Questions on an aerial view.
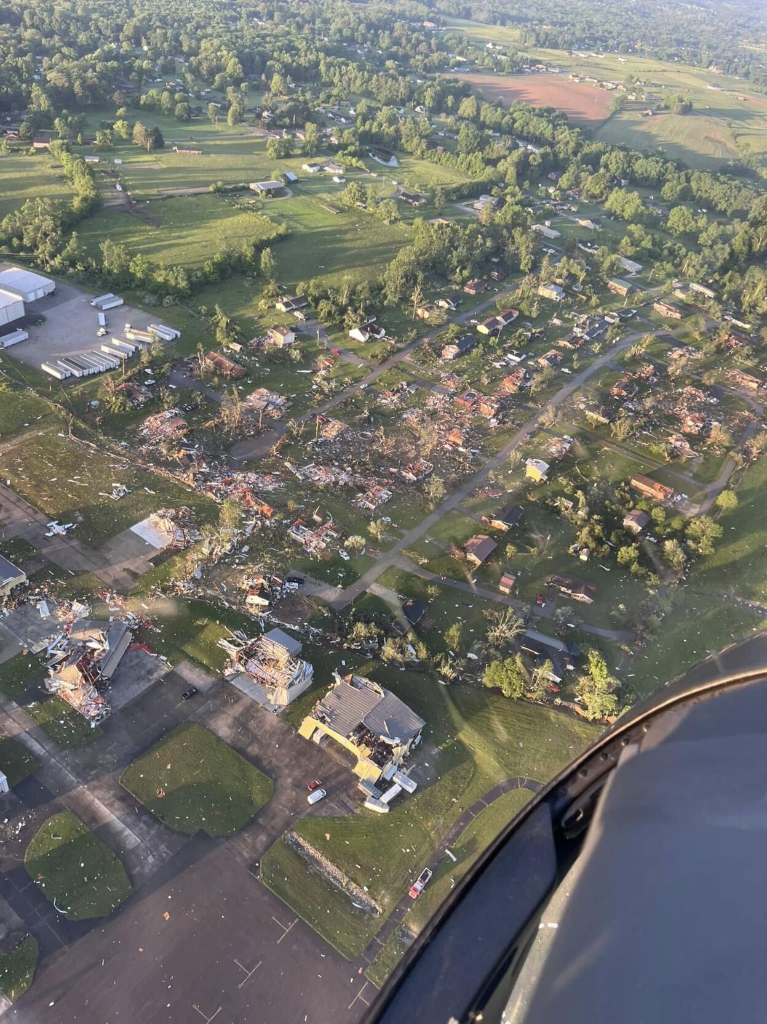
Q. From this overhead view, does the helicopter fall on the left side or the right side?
right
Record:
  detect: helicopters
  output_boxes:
[358,632,767,1024]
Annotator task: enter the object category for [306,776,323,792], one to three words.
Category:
car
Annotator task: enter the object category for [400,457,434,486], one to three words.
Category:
house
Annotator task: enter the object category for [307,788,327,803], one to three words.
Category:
car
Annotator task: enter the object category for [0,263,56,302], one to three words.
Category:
building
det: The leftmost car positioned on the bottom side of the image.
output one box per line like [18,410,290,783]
[179,684,200,698]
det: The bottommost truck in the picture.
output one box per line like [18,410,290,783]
[411,860,437,895]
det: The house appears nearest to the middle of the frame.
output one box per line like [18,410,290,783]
[355,484,400,510]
